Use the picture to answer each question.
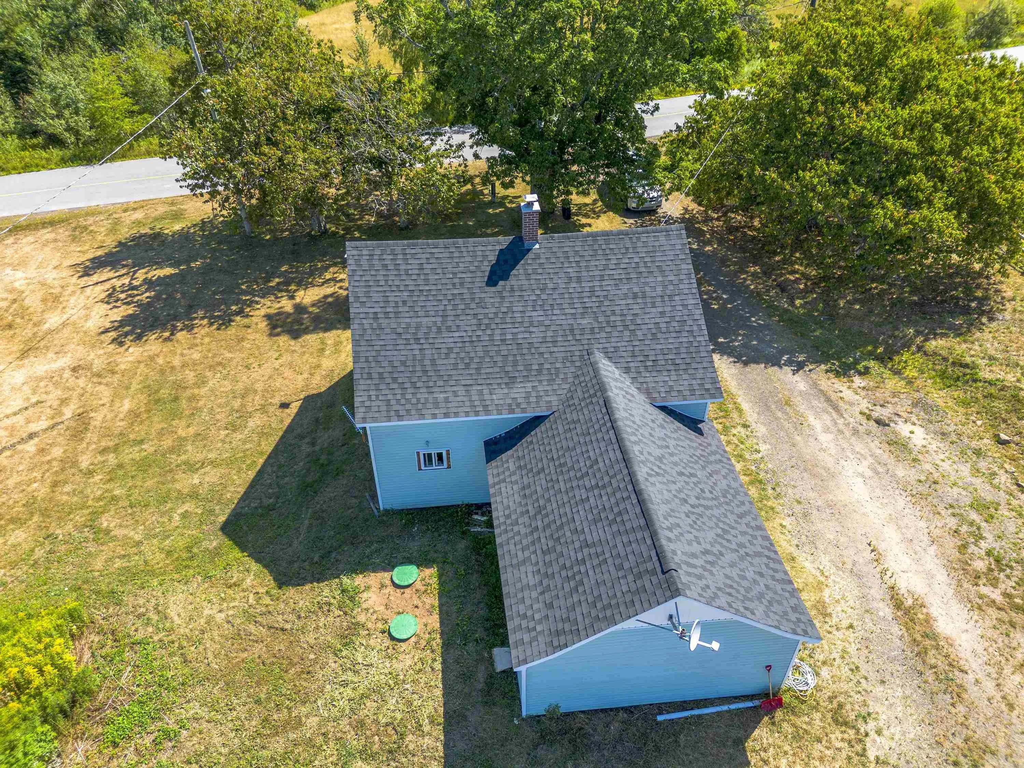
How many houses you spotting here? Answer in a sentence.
In total, 1 house can be seen.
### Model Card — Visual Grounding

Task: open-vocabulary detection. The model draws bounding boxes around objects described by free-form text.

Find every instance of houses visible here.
[346,195,822,722]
